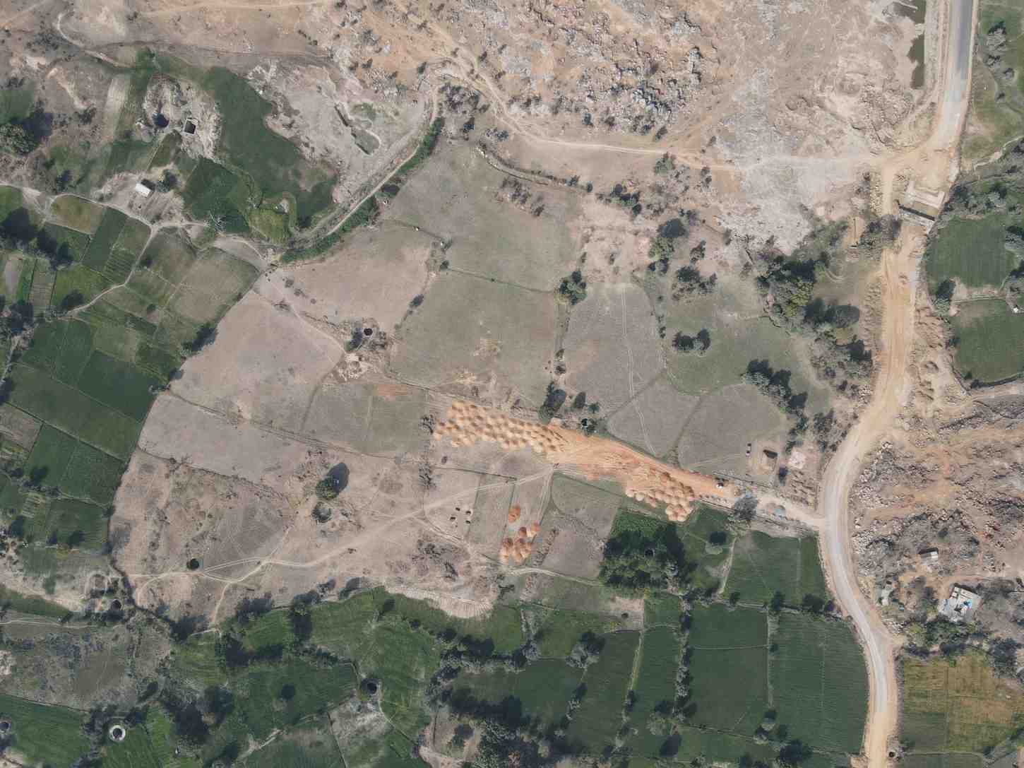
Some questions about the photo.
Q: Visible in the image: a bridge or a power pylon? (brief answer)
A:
bridge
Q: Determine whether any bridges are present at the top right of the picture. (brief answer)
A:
Yes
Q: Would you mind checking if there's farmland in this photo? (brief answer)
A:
Yes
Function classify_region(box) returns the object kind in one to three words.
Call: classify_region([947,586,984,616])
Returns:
house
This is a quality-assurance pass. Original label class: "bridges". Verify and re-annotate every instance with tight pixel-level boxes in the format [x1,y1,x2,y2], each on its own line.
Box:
[899,183,945,233]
